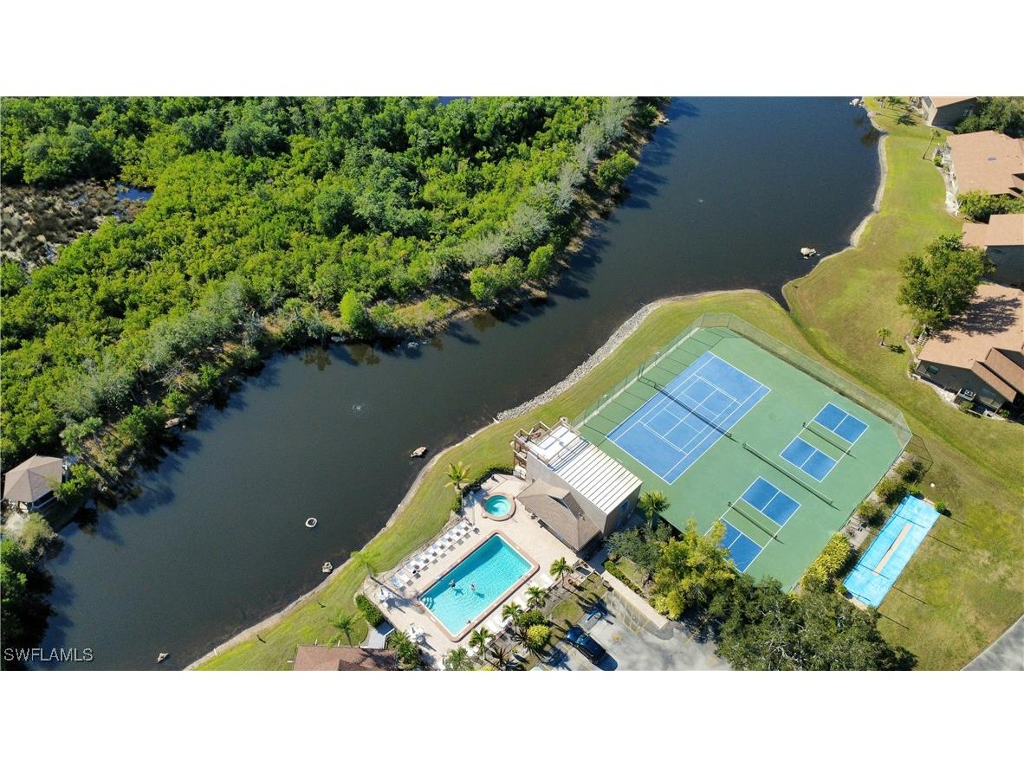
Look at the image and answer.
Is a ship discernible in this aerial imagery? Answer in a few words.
No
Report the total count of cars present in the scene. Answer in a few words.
1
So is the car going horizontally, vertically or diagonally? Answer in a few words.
diagonally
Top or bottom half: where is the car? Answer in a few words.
bottom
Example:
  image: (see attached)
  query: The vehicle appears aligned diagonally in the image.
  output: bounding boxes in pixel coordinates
[565,627,607,667]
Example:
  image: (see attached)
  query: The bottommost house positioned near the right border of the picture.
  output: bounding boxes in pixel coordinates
[914,282,1024,418]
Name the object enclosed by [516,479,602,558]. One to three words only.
building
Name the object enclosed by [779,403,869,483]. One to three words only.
sports court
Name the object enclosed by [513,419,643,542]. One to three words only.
building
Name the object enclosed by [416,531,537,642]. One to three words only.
swimming pool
